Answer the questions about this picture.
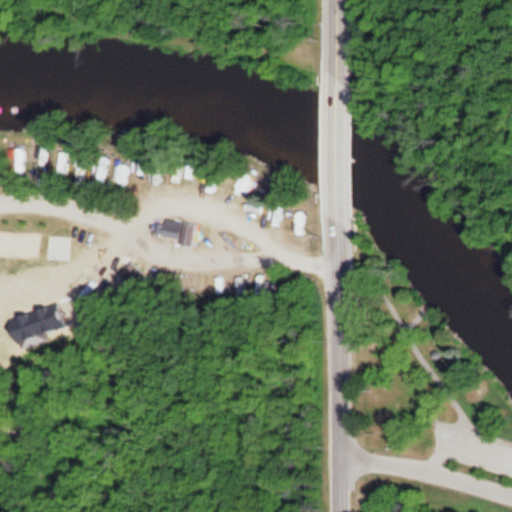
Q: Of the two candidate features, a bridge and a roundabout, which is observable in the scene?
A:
bridge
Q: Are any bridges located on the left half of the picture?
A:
No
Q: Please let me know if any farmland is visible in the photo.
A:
No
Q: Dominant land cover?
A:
trees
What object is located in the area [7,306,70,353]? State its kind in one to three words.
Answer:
house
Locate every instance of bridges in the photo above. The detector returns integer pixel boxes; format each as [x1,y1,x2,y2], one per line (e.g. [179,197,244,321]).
[315,76,357,233]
